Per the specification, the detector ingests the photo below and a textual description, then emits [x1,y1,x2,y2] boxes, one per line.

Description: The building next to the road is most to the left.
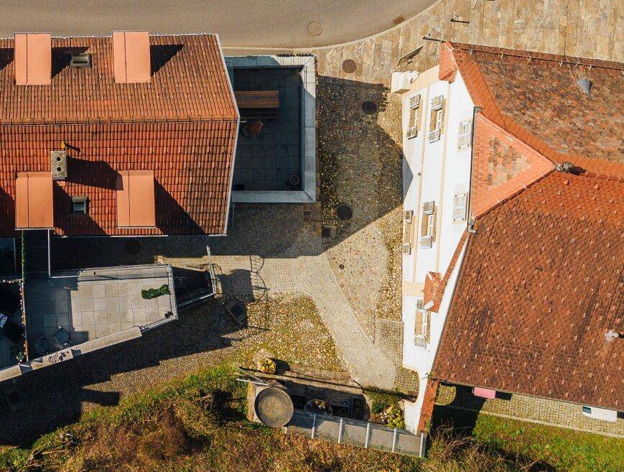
[0,30,241,239]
